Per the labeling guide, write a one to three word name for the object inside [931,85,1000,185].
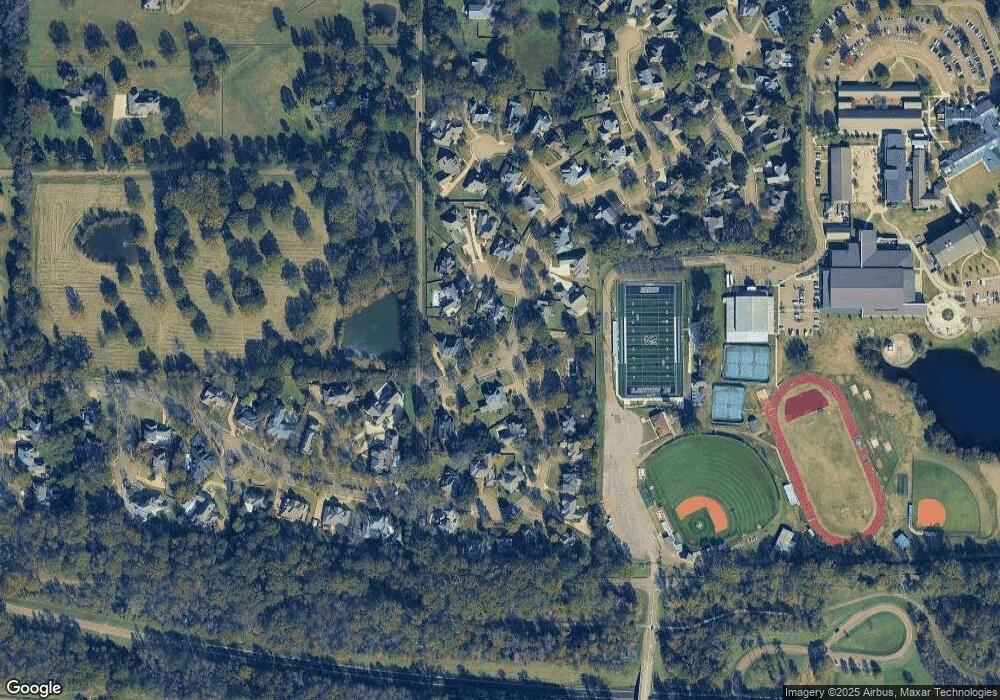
building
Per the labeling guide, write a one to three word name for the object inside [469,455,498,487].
house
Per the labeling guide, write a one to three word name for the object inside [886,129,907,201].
building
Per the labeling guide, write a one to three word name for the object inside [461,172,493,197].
house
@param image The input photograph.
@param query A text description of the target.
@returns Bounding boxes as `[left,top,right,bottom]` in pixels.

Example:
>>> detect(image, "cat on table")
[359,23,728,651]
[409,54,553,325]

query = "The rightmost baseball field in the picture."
[913,461,979,533]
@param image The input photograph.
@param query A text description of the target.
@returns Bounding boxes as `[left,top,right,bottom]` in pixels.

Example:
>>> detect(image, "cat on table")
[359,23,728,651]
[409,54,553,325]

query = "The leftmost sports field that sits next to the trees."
[616,281,683,399]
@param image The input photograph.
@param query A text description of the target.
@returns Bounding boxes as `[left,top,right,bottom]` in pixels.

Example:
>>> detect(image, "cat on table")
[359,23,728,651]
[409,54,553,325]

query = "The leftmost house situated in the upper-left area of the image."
[61,90,90,110]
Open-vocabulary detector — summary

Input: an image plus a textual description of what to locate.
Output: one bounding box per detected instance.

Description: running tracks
[766,373,887,546]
